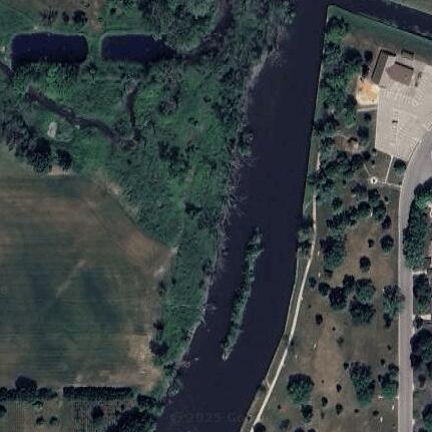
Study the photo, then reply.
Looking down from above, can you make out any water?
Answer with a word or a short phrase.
Yes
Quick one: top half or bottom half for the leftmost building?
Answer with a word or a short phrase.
top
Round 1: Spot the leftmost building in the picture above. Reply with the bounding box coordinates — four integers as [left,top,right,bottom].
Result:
[370,48,391,81]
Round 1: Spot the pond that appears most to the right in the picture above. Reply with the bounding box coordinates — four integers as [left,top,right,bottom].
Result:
[101,35,183,62]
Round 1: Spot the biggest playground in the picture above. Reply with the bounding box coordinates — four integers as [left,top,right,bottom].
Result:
[357,79,378,105]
